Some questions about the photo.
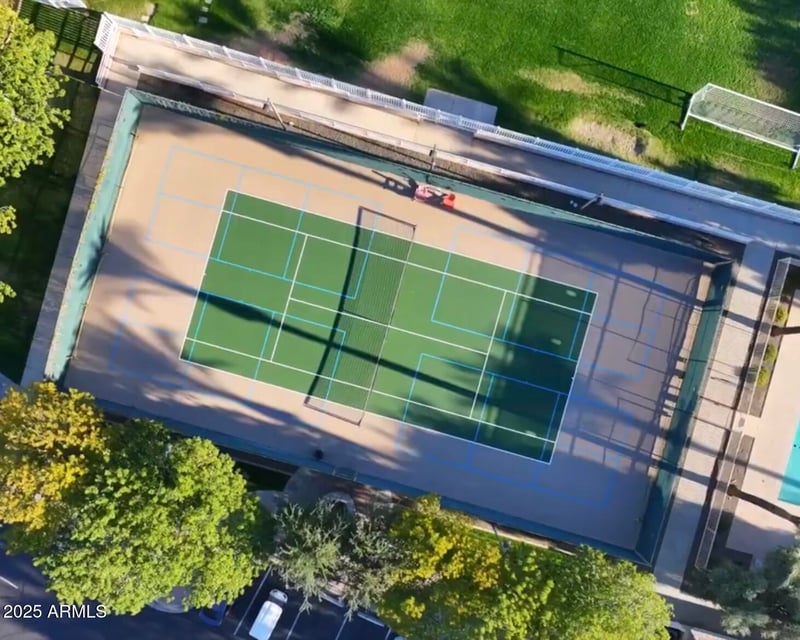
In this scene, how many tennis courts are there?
1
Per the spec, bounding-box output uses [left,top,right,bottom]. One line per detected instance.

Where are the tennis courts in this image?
[60,99,714,548]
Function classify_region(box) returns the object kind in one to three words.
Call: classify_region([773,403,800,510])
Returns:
swimming pool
